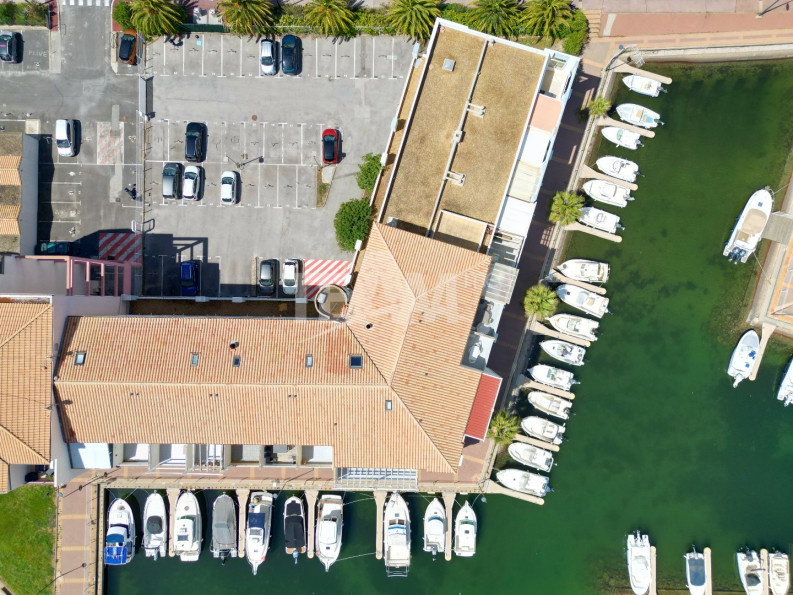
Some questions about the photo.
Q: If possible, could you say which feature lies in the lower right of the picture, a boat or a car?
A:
boat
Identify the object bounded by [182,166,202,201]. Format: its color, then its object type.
white car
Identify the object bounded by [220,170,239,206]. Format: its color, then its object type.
white car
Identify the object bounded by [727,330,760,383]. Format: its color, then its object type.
white boat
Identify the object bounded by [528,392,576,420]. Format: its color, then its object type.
white boat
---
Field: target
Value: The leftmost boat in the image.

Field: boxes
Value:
[101,498,138,568]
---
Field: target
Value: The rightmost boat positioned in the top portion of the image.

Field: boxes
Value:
[719,183,775,268]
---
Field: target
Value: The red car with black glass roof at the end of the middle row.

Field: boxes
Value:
[321,129,340,166]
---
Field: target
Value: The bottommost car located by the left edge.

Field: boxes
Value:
[39,239,75,255]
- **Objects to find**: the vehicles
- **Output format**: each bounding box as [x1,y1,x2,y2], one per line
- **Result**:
[259,39,276,78]
[220,170,239,206]
[160,163,182,201]
[257,259,276,297]
[0,32,19,65]
[321,129,340,166]
[182,166,202,201]
[180,262,201,296]
[281,36,300,77]
[281,259,299,296]
[39,239,75,255]
[118,30,140,67]
[184,122,205,163]
[54,119,77,156]
[122,184,135,199]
